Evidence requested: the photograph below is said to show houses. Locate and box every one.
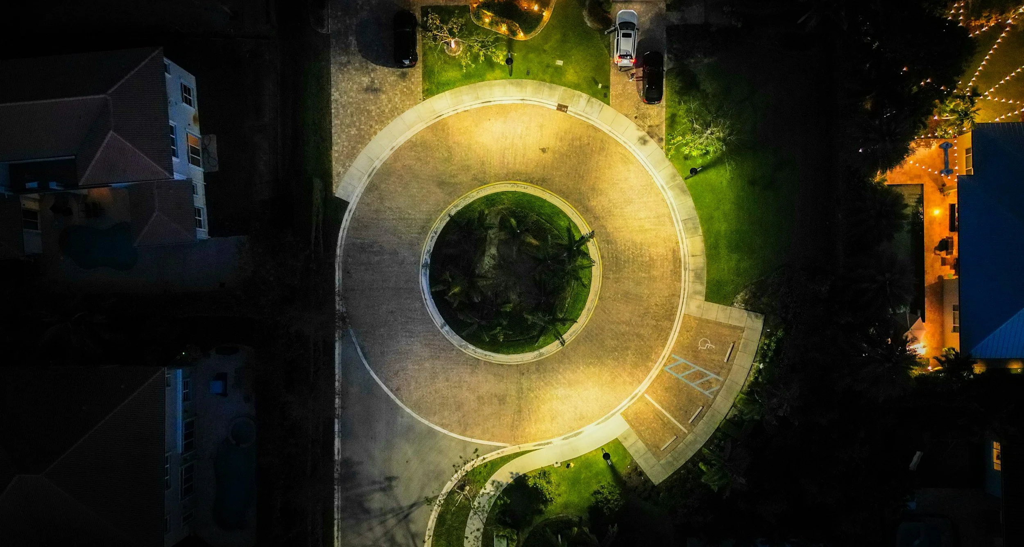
[0,366,198,547]
[984,430,1024,547]
[943,111,1024,359]
[0,46,209,261]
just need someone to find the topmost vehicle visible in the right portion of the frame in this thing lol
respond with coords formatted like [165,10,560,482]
[603,10,640,68]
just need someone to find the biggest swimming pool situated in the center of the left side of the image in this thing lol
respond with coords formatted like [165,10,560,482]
[59,221,140,271]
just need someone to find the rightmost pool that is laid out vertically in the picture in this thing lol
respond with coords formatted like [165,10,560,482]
[880,184,924,304]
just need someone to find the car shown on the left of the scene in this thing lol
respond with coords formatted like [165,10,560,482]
[390,11,420,69]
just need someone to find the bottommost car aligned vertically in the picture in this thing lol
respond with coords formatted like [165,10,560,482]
[640,51,667,106]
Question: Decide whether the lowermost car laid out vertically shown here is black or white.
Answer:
black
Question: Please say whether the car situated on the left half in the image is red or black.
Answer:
black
